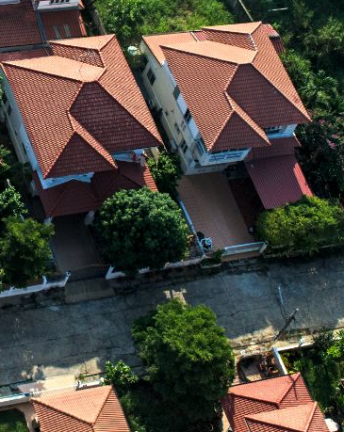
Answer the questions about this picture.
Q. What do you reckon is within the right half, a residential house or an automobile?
residential house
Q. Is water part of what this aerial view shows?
No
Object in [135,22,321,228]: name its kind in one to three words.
house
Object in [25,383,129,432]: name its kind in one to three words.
house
